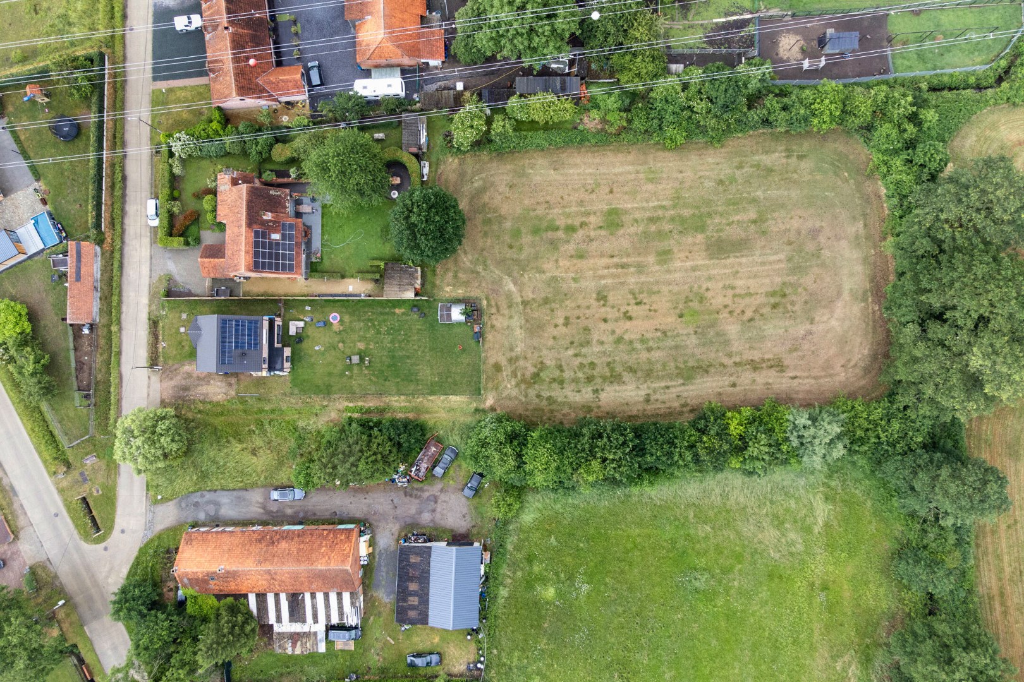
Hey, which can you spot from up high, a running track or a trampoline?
trampoline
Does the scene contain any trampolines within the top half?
Yes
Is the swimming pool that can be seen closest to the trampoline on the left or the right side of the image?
left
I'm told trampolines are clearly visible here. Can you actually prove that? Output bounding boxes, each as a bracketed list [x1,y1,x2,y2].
[41,111,78,142]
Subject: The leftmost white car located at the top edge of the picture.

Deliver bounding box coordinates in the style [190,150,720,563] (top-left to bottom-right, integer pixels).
[173,15,203,32]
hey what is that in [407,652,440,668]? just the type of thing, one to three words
car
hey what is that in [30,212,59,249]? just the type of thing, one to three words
swimming pool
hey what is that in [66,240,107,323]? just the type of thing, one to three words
shed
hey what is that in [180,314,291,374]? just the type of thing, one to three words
house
